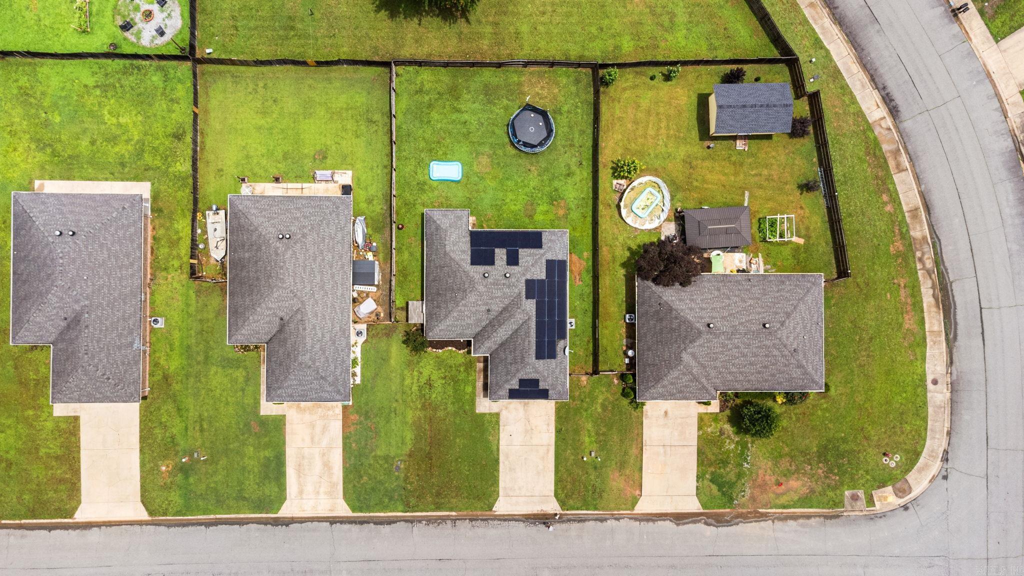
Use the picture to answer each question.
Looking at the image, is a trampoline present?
Yes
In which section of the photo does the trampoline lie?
top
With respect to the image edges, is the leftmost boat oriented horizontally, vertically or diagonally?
vertically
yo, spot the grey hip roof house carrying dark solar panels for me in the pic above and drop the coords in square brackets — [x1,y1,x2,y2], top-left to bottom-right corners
[424,209,569,402]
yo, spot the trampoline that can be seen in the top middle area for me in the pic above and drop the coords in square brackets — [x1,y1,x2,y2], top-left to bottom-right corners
[509,105,554,154]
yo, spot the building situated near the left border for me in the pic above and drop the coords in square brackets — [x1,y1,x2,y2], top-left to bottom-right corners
[10,192,155,404]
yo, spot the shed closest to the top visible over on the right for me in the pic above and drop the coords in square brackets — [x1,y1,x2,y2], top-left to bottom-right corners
[710,83,795,136]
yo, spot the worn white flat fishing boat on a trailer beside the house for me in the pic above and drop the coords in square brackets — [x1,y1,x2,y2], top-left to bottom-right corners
[205,204,227,266]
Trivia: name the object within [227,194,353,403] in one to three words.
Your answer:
house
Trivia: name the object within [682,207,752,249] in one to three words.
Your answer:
gazebo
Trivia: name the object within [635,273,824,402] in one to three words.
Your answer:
house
